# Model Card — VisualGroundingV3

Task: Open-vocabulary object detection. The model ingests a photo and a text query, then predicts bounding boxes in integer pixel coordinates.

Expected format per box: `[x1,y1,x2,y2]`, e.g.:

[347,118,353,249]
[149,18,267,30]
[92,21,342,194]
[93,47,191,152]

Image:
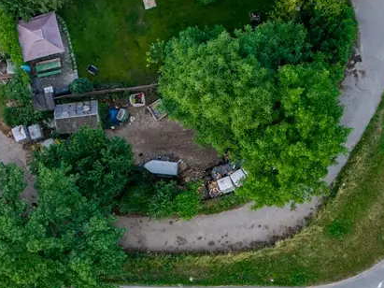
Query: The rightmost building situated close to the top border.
[19,14,81,72]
